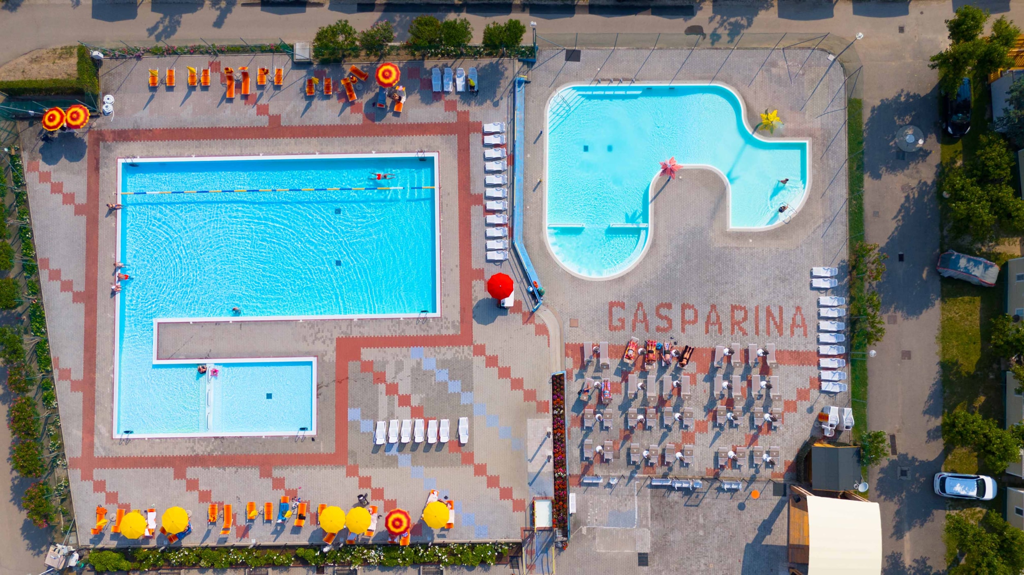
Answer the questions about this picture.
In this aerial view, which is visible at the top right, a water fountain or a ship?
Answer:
water fountain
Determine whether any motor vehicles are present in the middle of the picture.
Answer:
No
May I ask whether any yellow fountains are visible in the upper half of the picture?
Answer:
Yes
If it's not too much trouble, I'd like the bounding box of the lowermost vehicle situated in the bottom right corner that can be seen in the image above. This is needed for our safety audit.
[931,471,995,502]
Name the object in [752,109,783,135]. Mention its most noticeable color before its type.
yellow fountain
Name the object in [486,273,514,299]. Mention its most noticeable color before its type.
red umbrella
